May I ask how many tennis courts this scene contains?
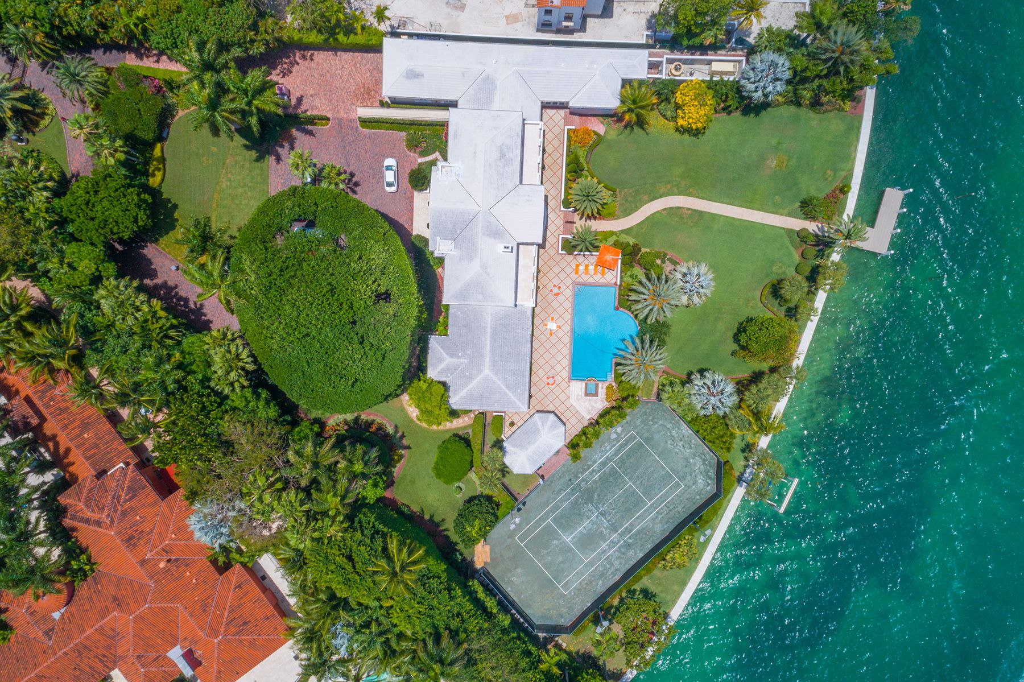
1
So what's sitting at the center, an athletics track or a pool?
pool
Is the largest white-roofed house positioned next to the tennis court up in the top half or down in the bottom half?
top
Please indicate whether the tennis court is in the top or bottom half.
bottom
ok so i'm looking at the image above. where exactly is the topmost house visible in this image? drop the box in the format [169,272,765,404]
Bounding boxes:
[536,0,604,33]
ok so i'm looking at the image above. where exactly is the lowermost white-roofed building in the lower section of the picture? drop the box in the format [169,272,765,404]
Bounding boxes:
[503,412,566,474]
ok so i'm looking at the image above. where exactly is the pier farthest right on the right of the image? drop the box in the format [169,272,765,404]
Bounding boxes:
[852,187,903,253]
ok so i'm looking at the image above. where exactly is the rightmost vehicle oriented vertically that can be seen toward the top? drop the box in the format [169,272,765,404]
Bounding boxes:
[382,158,398,192]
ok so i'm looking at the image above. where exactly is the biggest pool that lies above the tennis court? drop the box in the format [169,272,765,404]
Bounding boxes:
[569,282,640,383]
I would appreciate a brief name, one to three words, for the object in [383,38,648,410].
house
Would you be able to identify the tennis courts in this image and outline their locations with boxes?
[483,399,716,625]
